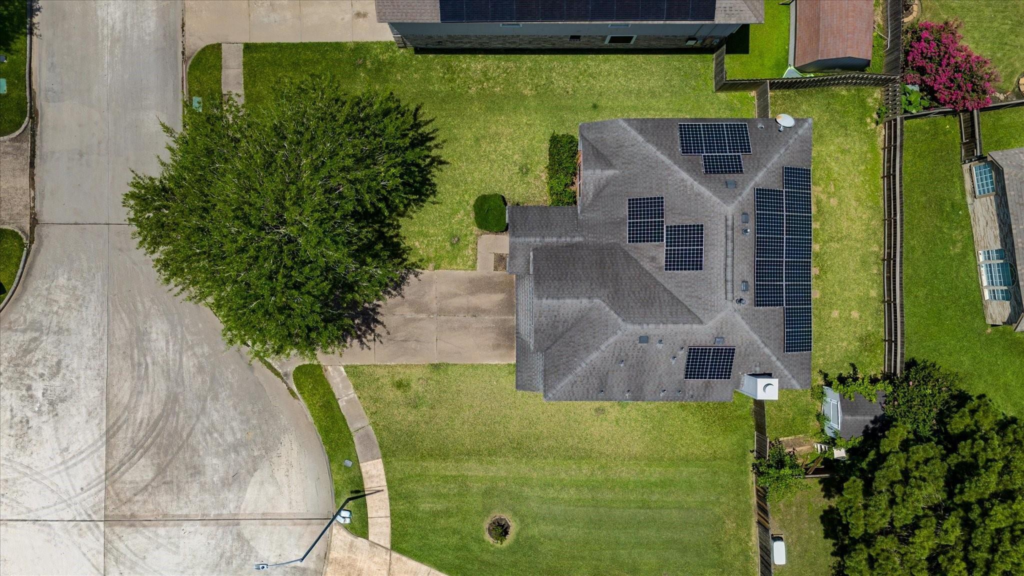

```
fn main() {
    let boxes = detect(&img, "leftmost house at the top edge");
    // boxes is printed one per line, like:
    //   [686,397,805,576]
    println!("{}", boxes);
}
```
[377,0,764,49]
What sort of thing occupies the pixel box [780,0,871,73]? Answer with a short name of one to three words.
shed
